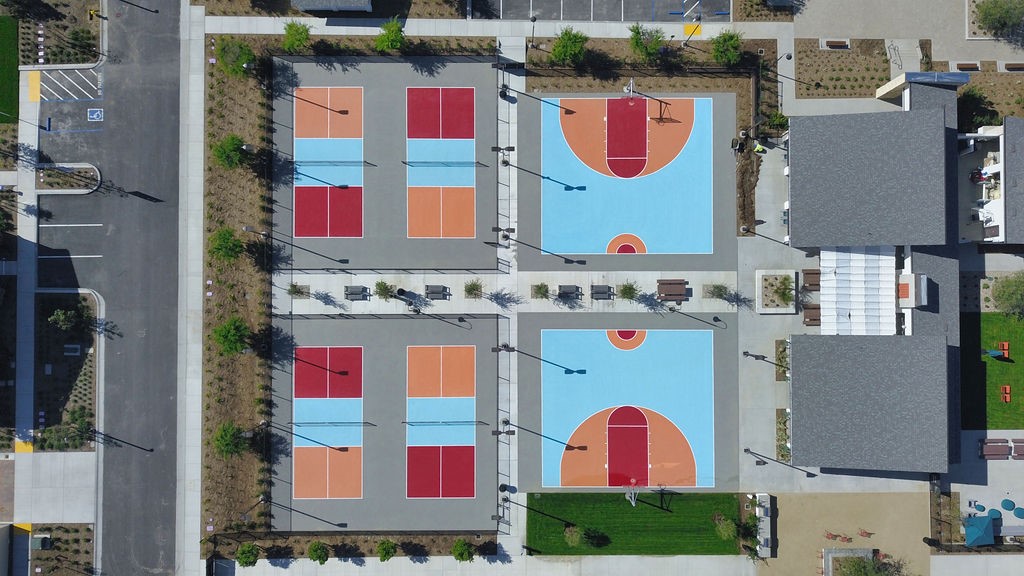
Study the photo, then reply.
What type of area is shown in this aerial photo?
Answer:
sports ground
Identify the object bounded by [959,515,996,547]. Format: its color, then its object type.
blue umbrella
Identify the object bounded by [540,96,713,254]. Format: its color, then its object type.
blue basketball court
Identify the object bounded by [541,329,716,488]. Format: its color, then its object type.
blue basketball court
